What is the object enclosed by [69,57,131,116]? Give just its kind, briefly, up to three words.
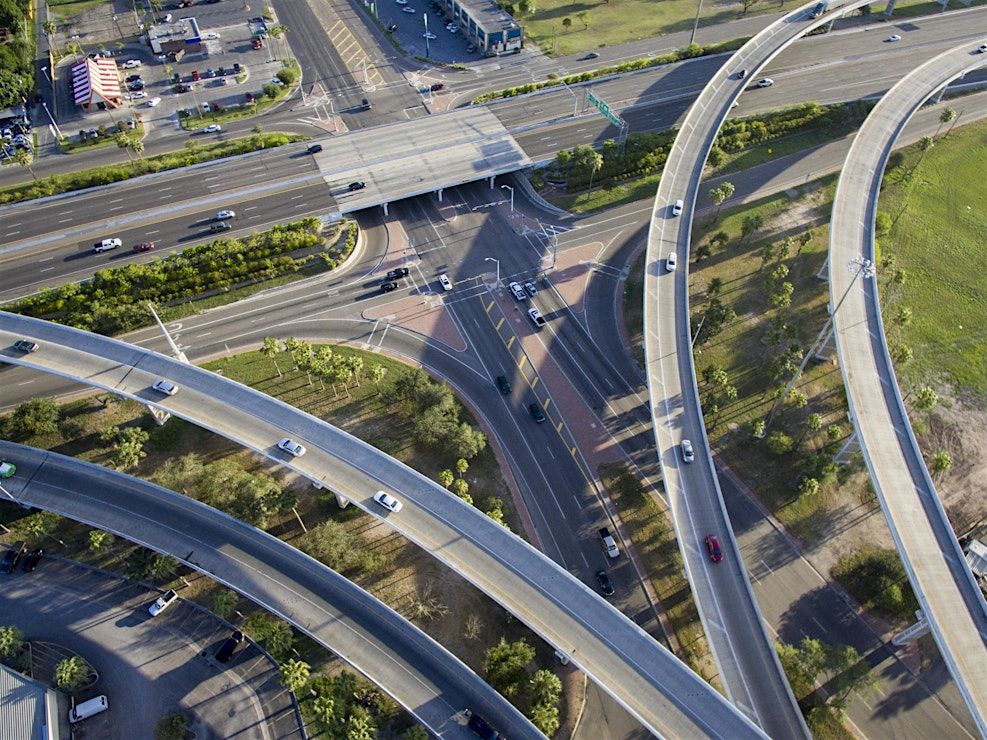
building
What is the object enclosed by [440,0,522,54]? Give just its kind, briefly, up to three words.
building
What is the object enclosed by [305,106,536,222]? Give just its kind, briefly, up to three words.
overpass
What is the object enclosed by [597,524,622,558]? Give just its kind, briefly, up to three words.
truck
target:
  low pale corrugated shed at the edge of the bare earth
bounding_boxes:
[958,535,987,589]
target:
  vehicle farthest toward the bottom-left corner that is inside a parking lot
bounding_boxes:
[67,694,108,723]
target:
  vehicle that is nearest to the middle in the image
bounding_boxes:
[495,374,512,394]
